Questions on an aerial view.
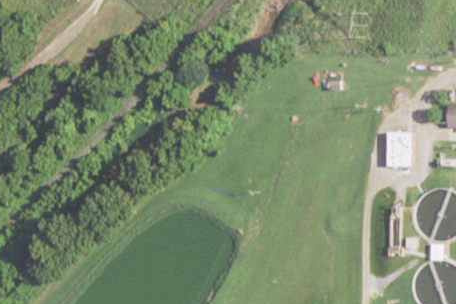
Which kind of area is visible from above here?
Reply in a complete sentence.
The picture captures an industrial area.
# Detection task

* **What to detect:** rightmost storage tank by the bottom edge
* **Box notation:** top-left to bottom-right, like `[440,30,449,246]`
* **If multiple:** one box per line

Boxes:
[412,260,456,304]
